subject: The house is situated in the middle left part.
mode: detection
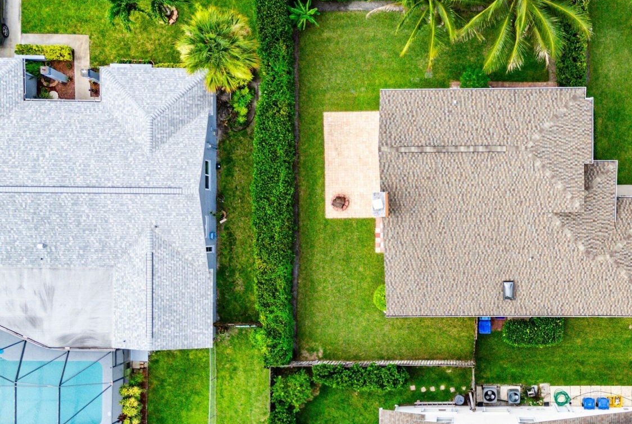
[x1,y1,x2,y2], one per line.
[0,54,219,355]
